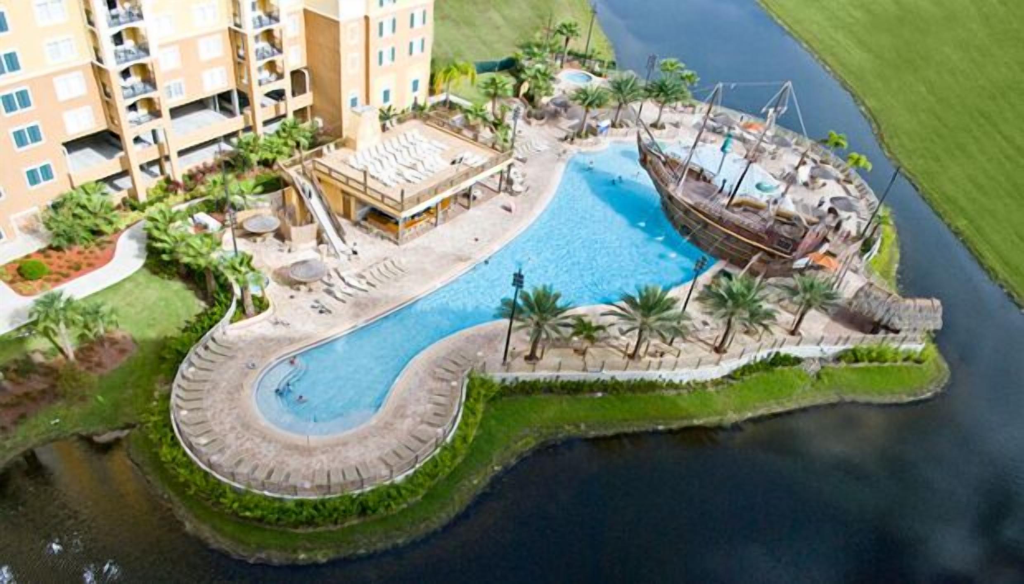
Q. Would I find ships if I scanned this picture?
Yes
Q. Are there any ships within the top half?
Yes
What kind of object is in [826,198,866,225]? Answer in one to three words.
umbrella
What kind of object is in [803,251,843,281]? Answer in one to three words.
umbrella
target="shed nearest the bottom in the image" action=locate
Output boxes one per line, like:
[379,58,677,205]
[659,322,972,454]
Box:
[839,279,946,346]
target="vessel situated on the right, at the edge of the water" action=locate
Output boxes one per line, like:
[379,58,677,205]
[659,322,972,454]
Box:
[636,86,835,280]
